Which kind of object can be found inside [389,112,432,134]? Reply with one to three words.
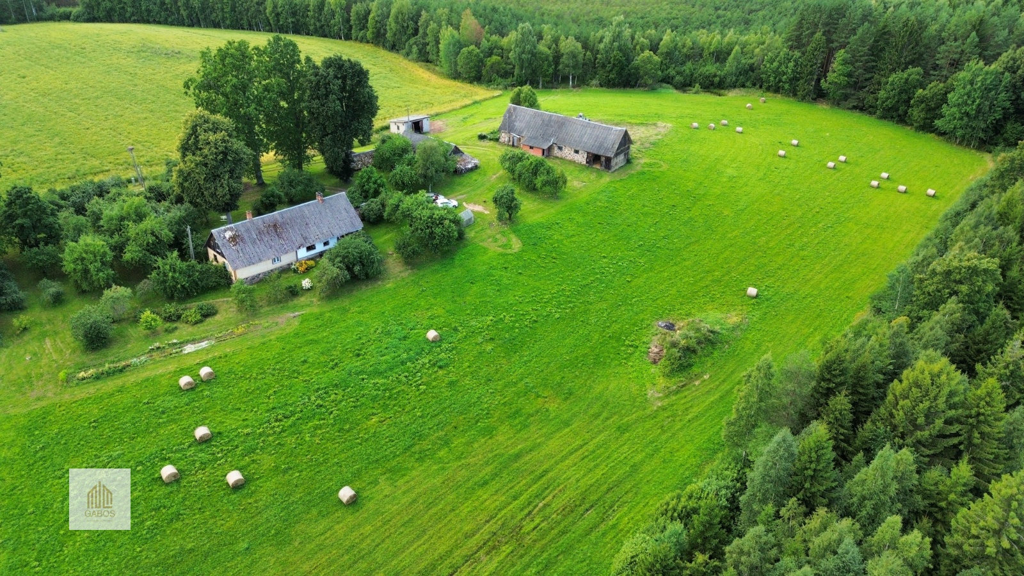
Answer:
building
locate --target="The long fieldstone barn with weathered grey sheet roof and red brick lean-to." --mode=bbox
[497,103,634,172]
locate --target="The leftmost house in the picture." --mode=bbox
[203,191,365,286]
